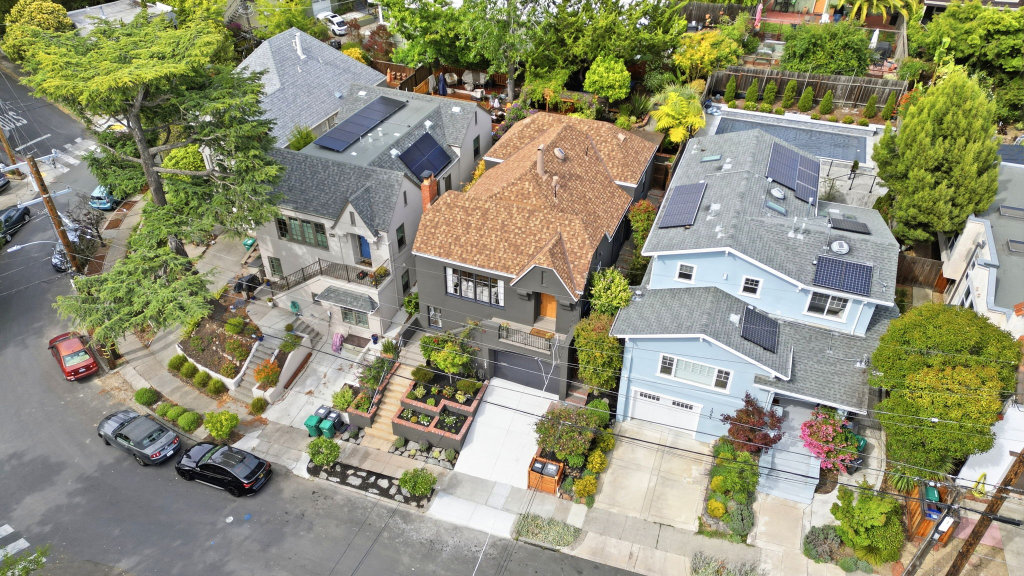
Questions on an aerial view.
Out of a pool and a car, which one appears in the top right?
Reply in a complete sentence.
Visible in the top right is a pool.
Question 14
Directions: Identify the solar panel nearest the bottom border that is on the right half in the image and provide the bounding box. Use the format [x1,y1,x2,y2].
[741,305,781,352]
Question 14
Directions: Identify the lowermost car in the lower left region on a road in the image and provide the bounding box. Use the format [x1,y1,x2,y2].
[172,441,271,498]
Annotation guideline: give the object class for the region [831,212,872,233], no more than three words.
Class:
solar panel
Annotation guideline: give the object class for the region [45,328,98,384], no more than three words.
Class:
car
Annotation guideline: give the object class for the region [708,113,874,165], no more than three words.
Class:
swimming pool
